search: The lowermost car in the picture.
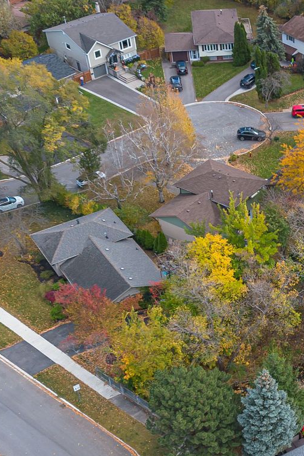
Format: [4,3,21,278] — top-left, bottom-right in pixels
[0,195,23,210]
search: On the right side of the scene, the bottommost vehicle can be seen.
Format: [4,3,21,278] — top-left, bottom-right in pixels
[236,126,265,141]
